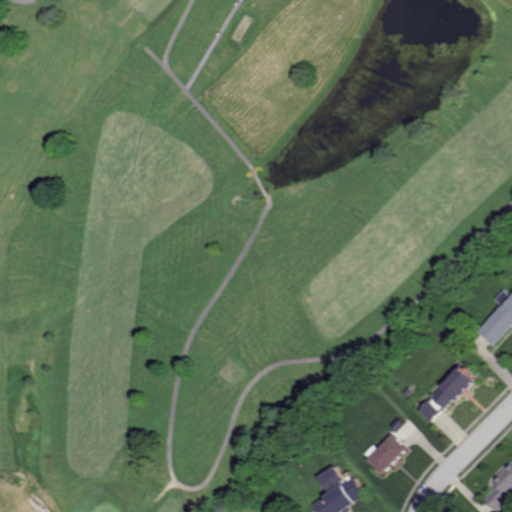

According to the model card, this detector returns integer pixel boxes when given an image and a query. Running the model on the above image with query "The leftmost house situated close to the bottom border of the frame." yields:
[312,466,366,512]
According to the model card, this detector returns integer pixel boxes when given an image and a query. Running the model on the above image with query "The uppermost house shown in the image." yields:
[478,291,512,346]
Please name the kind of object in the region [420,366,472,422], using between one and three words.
house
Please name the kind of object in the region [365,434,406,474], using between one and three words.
house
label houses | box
[485,458,512,512]
[478,291,512,346]
[365,434,406,474]
[312,466,366,512]
[420,366,472,422]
